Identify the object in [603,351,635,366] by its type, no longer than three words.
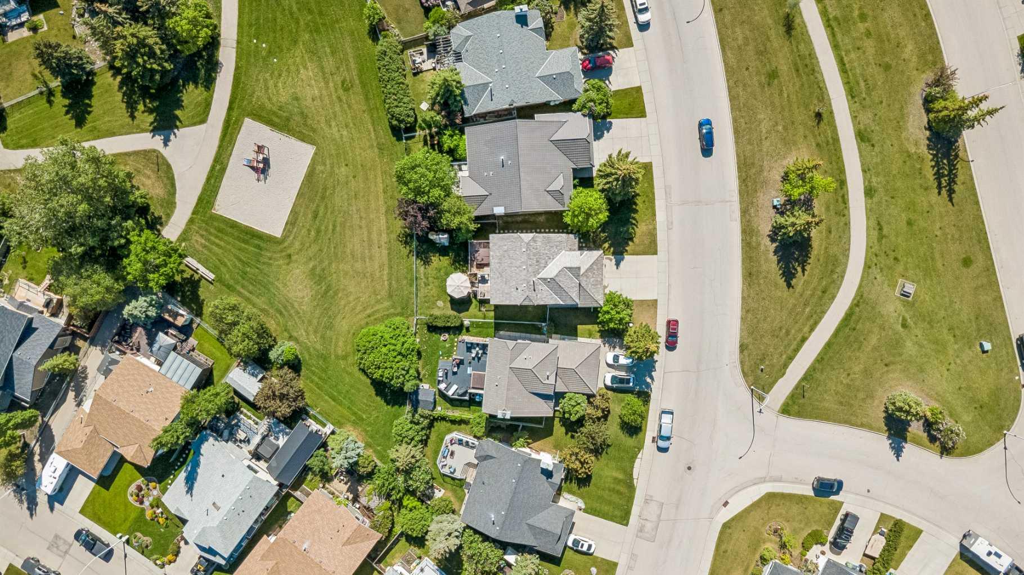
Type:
car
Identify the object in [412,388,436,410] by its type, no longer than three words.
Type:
shed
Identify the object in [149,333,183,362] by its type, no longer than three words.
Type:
gazebo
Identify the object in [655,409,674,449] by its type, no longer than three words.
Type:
vehicle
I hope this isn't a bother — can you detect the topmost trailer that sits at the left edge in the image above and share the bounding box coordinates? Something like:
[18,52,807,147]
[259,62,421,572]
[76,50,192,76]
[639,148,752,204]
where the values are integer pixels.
[40,453,74,493]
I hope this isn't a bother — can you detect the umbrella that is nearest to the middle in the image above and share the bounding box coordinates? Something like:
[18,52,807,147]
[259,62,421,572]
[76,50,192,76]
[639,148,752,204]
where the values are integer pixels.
[444,272,470,299]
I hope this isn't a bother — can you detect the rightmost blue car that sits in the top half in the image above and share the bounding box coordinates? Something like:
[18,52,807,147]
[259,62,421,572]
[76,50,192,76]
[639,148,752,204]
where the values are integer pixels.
[697,119,713,150]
